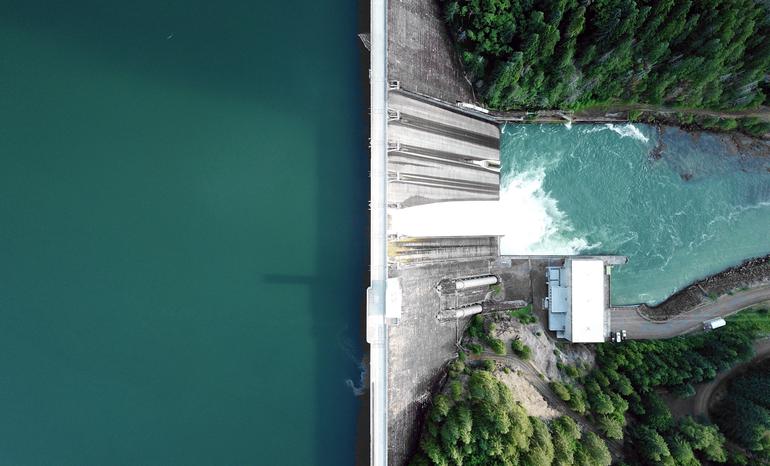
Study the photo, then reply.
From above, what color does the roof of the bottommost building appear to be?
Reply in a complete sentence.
The roof over the bottommost building appears white.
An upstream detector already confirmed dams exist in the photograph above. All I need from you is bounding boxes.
[358,0,528,466]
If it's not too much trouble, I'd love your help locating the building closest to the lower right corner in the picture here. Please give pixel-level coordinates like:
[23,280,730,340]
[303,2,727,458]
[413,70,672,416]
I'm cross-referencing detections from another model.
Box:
[544,259,613,343]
